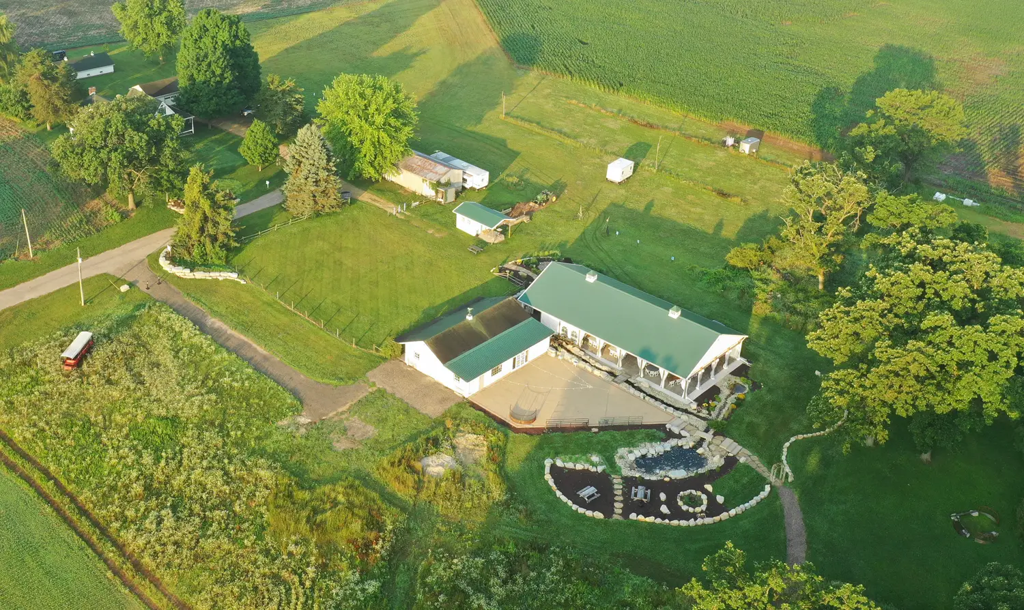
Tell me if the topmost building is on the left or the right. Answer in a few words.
left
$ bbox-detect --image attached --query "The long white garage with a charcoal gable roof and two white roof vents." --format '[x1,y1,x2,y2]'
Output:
[48,49,115,80]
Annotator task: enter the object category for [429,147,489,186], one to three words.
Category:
vehicle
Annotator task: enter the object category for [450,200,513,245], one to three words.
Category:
shed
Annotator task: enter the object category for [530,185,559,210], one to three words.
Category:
work vehicle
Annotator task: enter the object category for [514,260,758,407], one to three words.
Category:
building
